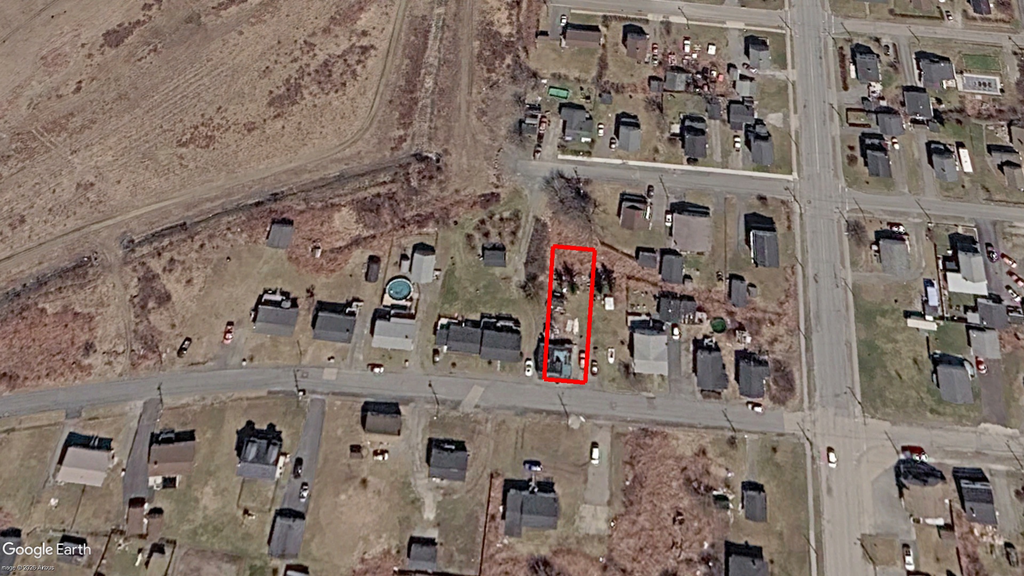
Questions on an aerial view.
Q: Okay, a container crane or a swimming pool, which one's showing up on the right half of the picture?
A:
swimming pool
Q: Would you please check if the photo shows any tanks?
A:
No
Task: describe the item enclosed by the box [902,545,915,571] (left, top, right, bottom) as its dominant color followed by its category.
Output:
white vehicle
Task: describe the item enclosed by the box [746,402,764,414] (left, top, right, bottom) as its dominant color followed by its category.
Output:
white vehicle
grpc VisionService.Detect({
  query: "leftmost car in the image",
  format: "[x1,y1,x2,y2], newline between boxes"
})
[177,337,192,358]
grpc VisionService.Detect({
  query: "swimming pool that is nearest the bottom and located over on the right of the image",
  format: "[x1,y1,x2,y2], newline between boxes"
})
[711,317,726,332]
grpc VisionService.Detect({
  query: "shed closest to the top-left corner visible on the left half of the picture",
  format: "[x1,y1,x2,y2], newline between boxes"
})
[266,221,294,249]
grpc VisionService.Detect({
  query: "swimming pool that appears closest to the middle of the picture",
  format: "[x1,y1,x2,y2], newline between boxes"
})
[382,277,418,309]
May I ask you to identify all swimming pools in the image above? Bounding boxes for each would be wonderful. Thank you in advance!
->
[960,75,1001,95]
[382,277,418,309]
[711,317,726,332]
[549,87,568,98]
